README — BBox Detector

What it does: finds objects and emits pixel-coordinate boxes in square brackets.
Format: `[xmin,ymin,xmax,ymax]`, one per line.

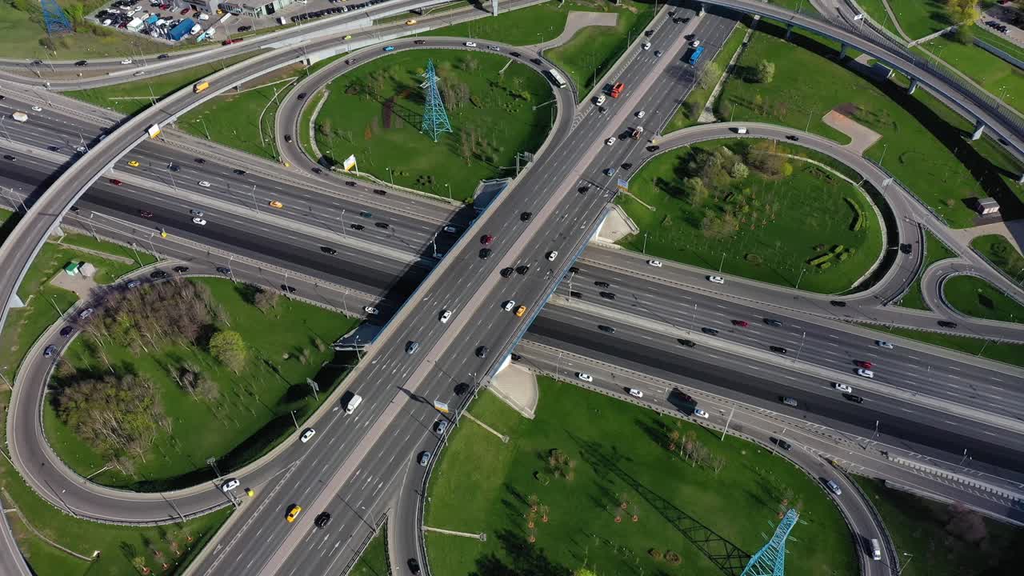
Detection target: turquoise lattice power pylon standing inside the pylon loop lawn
[419,61,454,142]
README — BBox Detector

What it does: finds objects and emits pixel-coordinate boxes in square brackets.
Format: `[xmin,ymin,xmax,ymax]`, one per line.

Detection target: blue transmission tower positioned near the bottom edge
[736,508,800,576]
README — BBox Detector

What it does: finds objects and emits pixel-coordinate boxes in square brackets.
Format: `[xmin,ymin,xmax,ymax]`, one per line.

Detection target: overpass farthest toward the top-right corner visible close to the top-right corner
[705,0,1024,151]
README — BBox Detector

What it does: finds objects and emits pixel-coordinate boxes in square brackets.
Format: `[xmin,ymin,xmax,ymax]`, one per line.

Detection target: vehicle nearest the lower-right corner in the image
[869,539,885,562]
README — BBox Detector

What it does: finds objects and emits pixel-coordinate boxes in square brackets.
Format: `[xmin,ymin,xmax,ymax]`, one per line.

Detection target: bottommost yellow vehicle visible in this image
[285,504,303,524]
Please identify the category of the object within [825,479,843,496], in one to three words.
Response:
car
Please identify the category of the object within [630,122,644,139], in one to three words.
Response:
vehicle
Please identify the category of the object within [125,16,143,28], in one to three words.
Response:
vehicle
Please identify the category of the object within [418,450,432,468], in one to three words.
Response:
car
